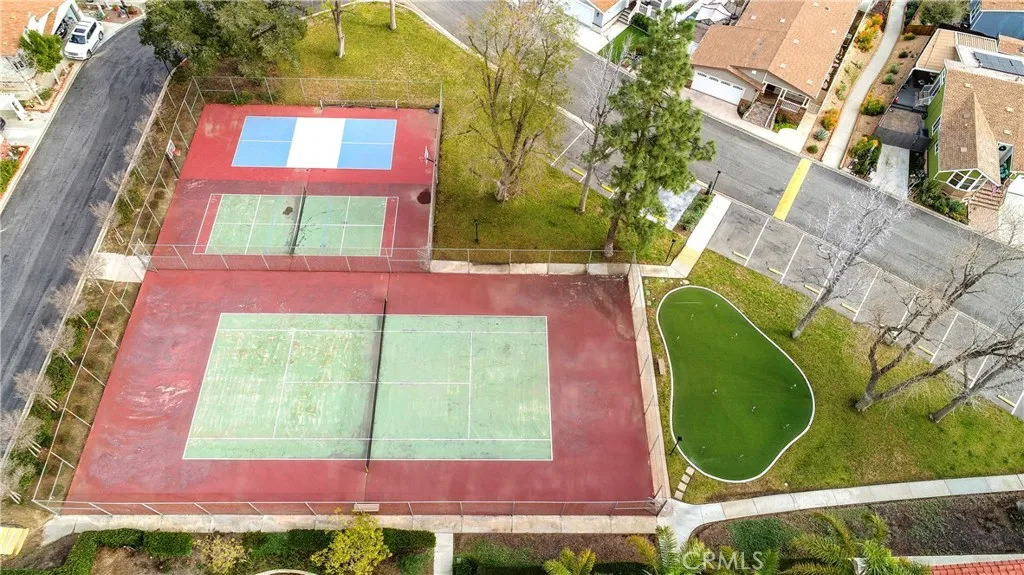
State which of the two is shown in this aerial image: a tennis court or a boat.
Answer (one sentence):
Looking from above, you can make out a tennis court.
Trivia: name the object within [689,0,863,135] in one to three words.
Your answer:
house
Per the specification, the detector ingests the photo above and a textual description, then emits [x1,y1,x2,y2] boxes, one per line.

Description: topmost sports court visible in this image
[178,103,441,184]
